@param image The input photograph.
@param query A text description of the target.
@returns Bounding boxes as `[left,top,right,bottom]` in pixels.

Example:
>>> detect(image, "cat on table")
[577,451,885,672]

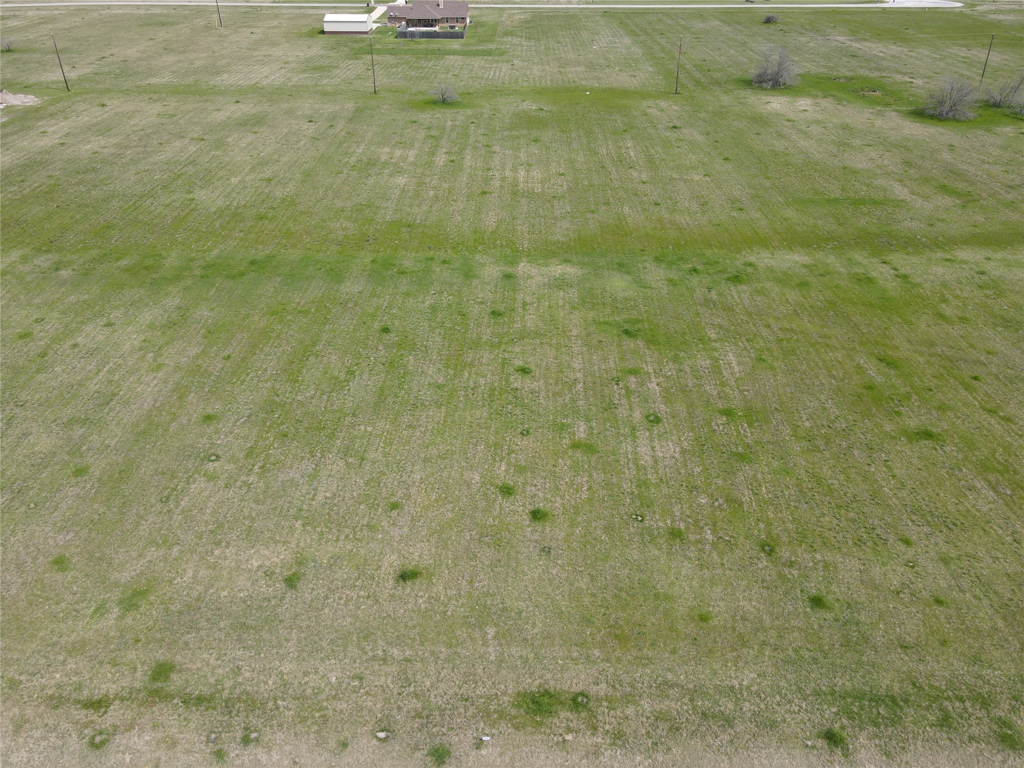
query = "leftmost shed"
[322,14,373,35]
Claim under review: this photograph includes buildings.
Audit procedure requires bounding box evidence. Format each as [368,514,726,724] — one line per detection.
[385,0,470,28]
[322,14,373,35]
